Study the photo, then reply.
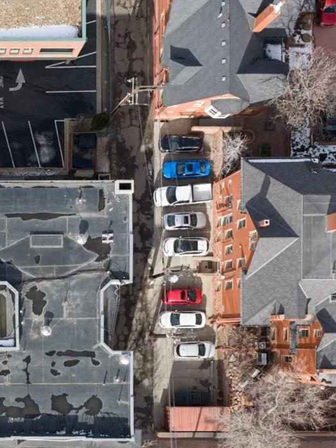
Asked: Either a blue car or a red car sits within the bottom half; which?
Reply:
red car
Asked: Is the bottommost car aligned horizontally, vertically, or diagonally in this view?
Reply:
horizontally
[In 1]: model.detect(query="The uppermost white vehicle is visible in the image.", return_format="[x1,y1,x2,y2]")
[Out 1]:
[153,182,214,206]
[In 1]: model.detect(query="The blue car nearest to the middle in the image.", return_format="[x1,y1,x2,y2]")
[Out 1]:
[161,156,211,181]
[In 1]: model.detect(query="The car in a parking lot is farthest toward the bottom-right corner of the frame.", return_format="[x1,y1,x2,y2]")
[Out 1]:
[173,339,215,361]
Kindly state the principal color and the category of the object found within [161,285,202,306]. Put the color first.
red car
